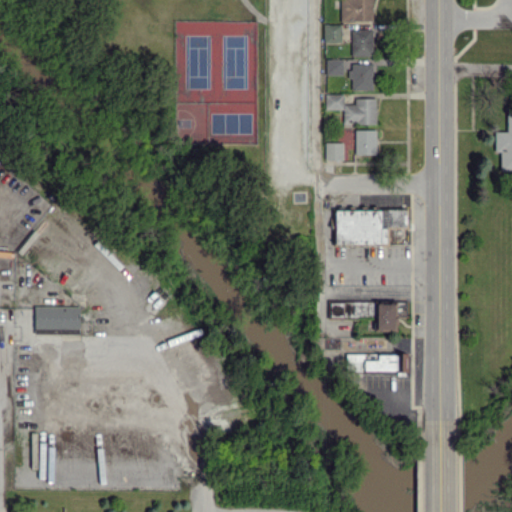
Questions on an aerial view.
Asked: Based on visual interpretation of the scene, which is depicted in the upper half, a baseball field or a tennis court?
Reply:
tennis court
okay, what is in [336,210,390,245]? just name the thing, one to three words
building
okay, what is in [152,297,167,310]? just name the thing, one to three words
vehicle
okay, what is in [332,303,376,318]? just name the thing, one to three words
building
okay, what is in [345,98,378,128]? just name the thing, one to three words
house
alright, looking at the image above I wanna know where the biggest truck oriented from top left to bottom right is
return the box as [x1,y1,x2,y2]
[96,244,124,272]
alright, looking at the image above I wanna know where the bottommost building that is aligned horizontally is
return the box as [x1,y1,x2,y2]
[347,354,400,374]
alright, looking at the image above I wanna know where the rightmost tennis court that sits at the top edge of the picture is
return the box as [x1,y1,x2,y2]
[217,22,258,102]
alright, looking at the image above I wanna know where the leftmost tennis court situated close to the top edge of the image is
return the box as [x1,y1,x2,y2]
[176,22,217,102]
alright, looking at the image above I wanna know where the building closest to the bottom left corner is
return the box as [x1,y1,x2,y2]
[34,306,82,334]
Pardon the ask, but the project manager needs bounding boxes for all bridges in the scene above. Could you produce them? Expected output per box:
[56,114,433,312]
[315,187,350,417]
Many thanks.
[418,422,464,512]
